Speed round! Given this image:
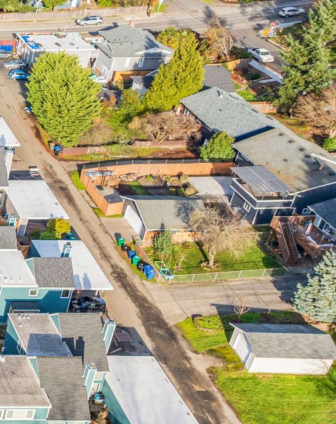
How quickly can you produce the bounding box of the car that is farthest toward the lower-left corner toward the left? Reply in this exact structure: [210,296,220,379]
[68,292,110,311]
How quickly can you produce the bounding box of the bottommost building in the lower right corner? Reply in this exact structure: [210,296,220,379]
[229,333,336,379]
